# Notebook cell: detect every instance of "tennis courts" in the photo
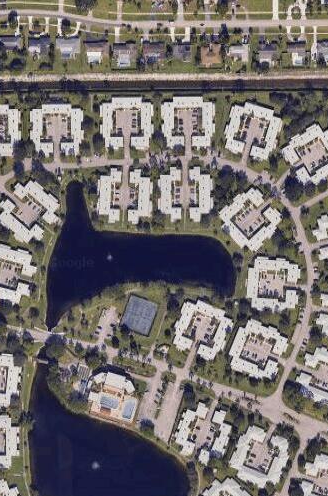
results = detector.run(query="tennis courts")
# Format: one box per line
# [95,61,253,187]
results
[121,295,157,336]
